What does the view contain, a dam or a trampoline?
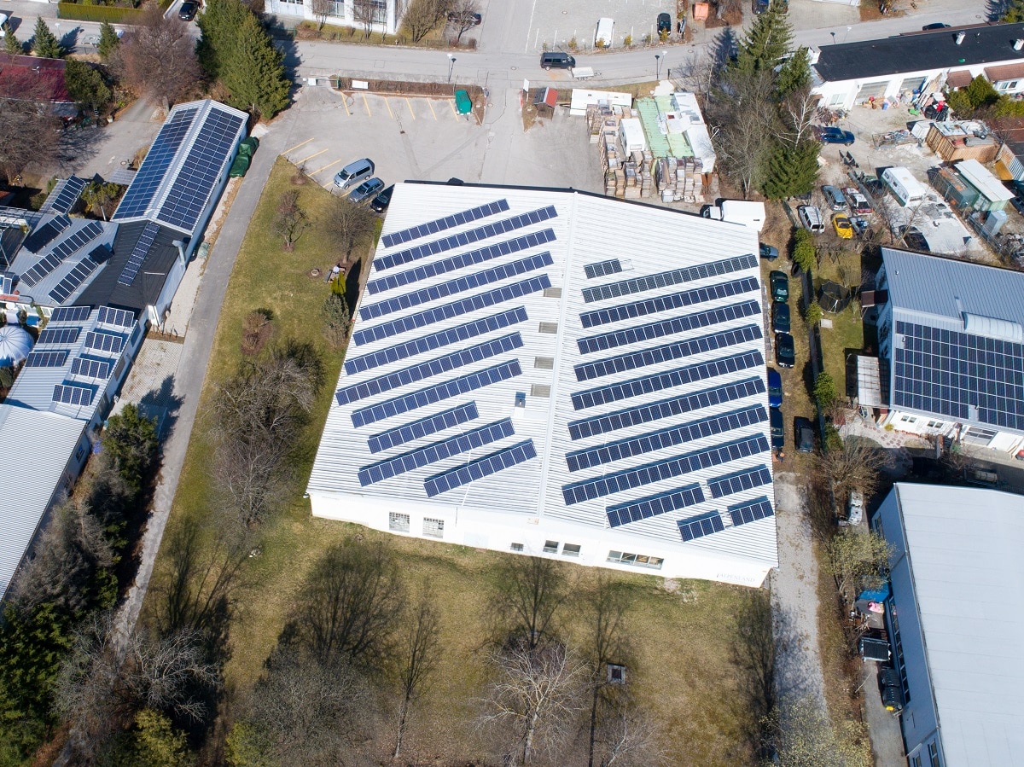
trampoline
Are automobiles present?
Yes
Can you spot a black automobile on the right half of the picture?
Yes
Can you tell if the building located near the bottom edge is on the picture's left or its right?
right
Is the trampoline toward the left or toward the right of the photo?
right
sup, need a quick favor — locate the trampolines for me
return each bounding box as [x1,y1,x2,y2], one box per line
[816,275,858,313]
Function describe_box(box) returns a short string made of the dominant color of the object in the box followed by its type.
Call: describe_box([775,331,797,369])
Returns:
black car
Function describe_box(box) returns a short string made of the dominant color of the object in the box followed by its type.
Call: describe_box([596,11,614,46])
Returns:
white vehicle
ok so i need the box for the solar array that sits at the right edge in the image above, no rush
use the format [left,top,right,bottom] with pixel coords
[894,320,1024,431]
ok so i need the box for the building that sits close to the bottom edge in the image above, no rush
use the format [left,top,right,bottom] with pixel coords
[869,483,1024,767]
